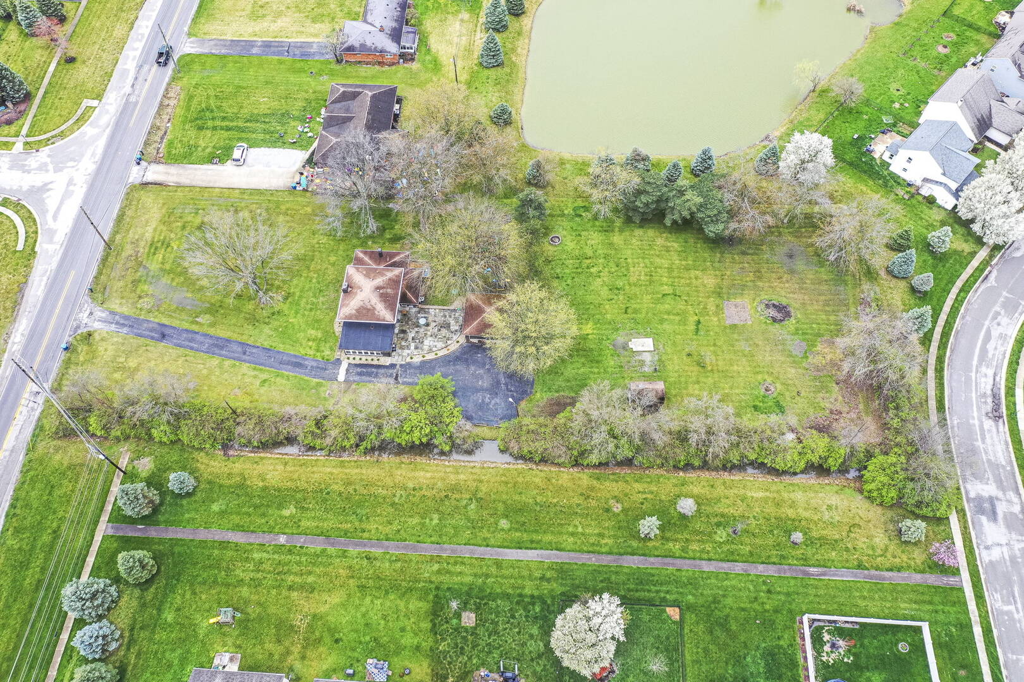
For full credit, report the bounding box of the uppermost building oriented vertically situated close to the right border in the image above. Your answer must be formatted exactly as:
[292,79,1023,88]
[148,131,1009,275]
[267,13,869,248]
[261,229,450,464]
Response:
[980,16,1024,106]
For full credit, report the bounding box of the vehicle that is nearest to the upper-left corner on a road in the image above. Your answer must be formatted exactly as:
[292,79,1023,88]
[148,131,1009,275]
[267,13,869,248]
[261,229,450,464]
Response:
[156,48,173,68]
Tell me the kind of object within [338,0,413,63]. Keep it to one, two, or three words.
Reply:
house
